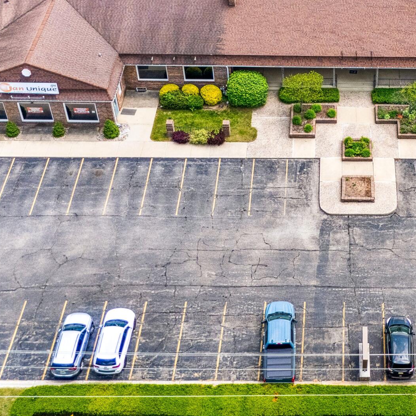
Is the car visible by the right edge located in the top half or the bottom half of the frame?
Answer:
bottom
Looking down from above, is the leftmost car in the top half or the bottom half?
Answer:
bottom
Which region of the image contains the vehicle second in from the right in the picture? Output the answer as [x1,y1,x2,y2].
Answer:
[262,300,297,382]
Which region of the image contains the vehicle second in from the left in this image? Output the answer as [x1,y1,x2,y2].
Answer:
[94,310,135,376]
